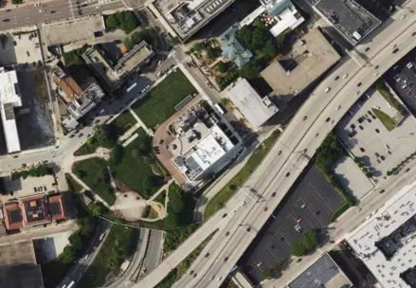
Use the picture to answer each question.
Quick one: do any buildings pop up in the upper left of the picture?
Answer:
Yes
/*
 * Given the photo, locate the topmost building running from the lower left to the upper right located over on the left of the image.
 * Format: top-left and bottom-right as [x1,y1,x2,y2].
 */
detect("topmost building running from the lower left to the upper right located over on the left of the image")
[69,82,105,119]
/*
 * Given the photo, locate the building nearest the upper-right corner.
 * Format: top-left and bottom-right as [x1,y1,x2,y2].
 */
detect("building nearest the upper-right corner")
[311,0,382,46]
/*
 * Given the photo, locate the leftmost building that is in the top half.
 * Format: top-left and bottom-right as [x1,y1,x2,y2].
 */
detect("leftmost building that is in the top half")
[0,67,21,155]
